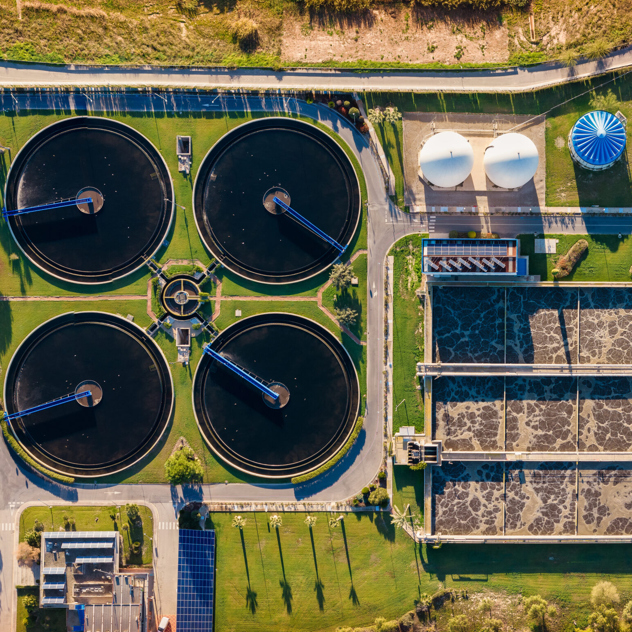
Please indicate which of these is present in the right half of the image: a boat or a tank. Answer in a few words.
tank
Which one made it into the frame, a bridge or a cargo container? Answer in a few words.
bridge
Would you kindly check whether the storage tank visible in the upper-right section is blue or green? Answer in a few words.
blue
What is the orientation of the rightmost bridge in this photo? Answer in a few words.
at an angle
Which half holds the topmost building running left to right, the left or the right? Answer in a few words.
right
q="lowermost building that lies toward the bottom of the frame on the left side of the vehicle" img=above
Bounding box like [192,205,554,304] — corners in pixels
[70,570,152,632]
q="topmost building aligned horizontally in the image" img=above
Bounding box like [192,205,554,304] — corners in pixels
[421,238,517,276]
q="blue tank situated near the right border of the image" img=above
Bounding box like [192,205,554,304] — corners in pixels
[568,109,627,169]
